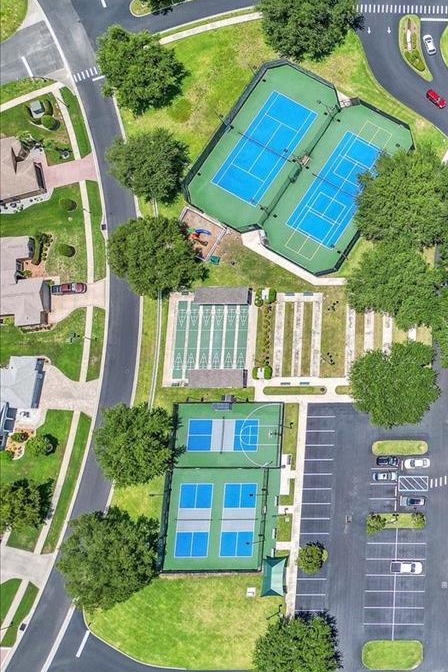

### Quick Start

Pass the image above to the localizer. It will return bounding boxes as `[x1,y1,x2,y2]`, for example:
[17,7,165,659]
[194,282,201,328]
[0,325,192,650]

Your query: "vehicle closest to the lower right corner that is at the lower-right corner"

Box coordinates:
[390,561,422,573]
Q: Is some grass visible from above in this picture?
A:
Yes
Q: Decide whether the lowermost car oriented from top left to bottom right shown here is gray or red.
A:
red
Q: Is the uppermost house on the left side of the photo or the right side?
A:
left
